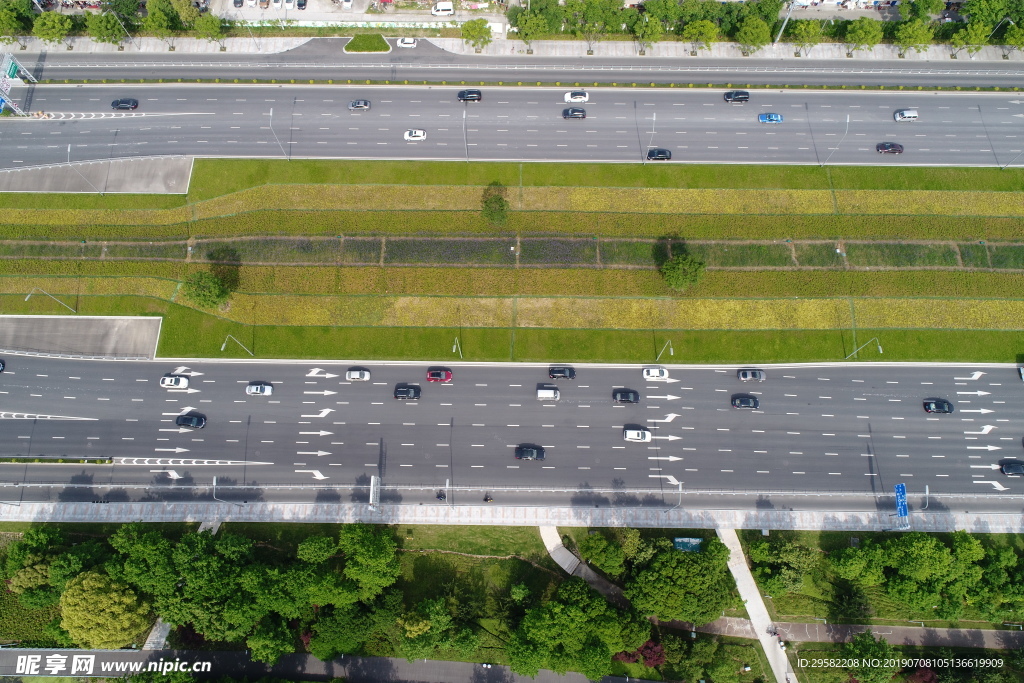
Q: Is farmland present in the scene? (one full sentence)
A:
No, farmland can't be seen anywhere here.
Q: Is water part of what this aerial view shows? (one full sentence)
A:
No, water can't be seen anywhere here.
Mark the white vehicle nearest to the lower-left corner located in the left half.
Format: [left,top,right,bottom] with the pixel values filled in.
[158,376,187,389]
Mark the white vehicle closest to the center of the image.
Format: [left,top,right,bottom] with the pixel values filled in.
[535,389,561,401]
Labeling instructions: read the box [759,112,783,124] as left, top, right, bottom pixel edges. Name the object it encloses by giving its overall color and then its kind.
blue vehicle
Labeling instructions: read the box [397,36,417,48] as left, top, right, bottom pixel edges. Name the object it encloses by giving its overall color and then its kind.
white vehicle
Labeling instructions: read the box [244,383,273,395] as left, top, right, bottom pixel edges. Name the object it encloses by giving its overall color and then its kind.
white vehicle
